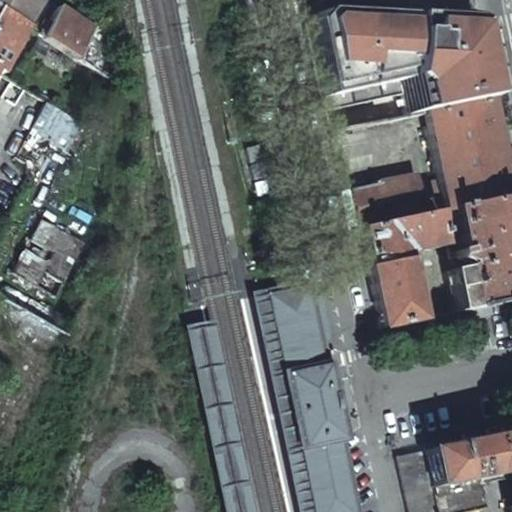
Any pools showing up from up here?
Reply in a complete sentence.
No, there appears to be no pool in this shot.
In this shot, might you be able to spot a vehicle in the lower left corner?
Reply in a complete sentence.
No, the scene shows no vehicle in the lower left corner.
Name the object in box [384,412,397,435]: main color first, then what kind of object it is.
white vehicle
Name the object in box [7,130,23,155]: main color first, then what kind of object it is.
gray car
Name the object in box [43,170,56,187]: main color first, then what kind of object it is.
white vehicle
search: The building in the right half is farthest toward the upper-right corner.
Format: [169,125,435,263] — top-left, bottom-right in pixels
[423,8,512,107]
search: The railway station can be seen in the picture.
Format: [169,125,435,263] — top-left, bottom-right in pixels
[269,284,364,512]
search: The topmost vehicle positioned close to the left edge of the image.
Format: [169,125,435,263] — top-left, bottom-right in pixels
[20,106,36,130]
